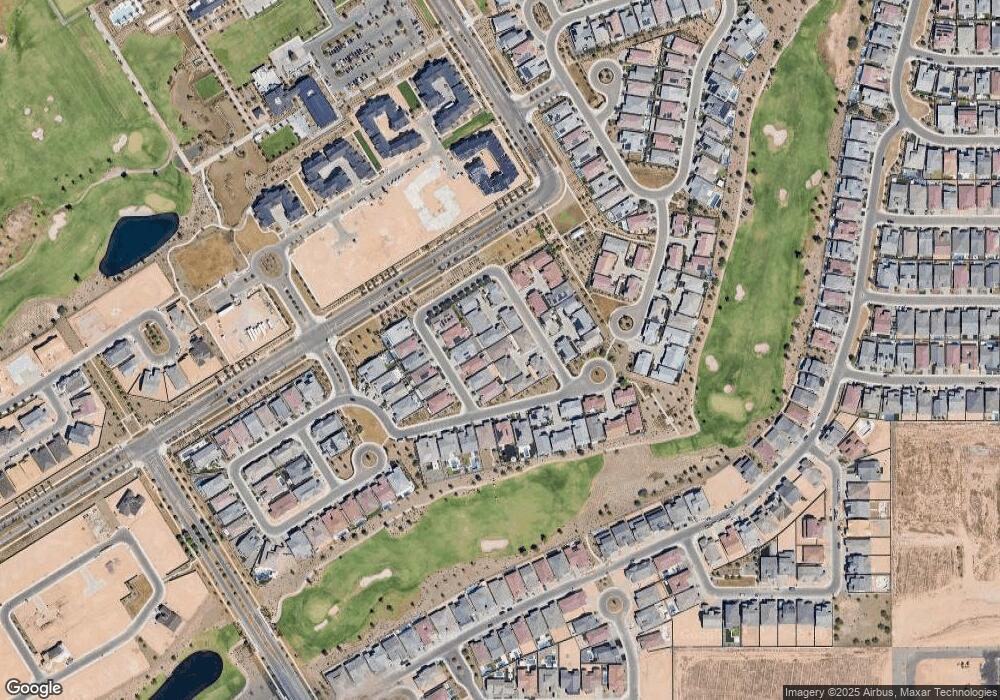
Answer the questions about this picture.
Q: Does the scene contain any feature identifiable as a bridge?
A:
Yes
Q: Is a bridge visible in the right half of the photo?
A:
No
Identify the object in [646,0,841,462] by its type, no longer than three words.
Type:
golf course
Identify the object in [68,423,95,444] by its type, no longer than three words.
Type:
house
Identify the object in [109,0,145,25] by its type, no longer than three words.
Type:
swimming pool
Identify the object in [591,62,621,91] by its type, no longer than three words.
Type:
roundabout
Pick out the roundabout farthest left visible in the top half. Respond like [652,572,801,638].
[254,247,288,281]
